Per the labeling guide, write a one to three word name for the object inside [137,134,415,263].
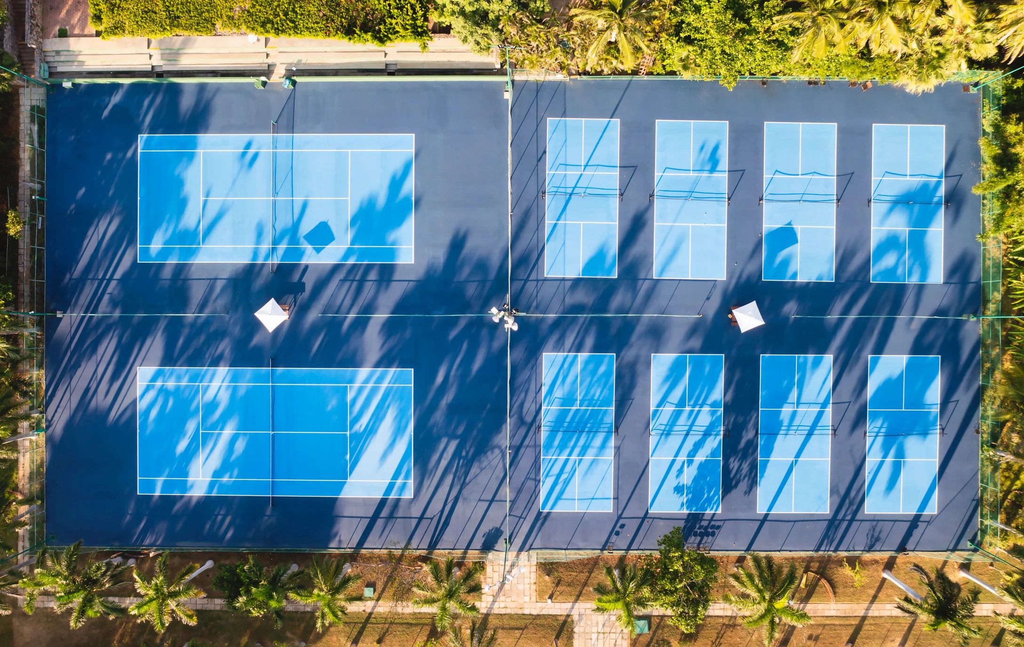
tennis court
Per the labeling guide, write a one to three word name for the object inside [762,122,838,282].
sports court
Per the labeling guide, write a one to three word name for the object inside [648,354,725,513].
sports court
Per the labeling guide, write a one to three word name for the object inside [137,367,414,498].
tennis court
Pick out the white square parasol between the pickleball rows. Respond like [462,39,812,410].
[732,301,765,333]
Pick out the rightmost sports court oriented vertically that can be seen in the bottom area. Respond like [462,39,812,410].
[865,355,941,514]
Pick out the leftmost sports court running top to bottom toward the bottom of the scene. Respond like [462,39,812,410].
[540,353,616,513]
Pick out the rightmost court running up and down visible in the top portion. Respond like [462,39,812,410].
[870,123,946,284]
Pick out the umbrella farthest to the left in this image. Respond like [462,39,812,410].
[255,298,288,332]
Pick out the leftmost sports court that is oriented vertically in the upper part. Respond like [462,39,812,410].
[544,117,620,278]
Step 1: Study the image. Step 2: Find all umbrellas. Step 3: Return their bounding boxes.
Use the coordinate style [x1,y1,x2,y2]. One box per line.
[255,298,288,332]
[732,301,765,333]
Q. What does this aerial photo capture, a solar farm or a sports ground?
sports ground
